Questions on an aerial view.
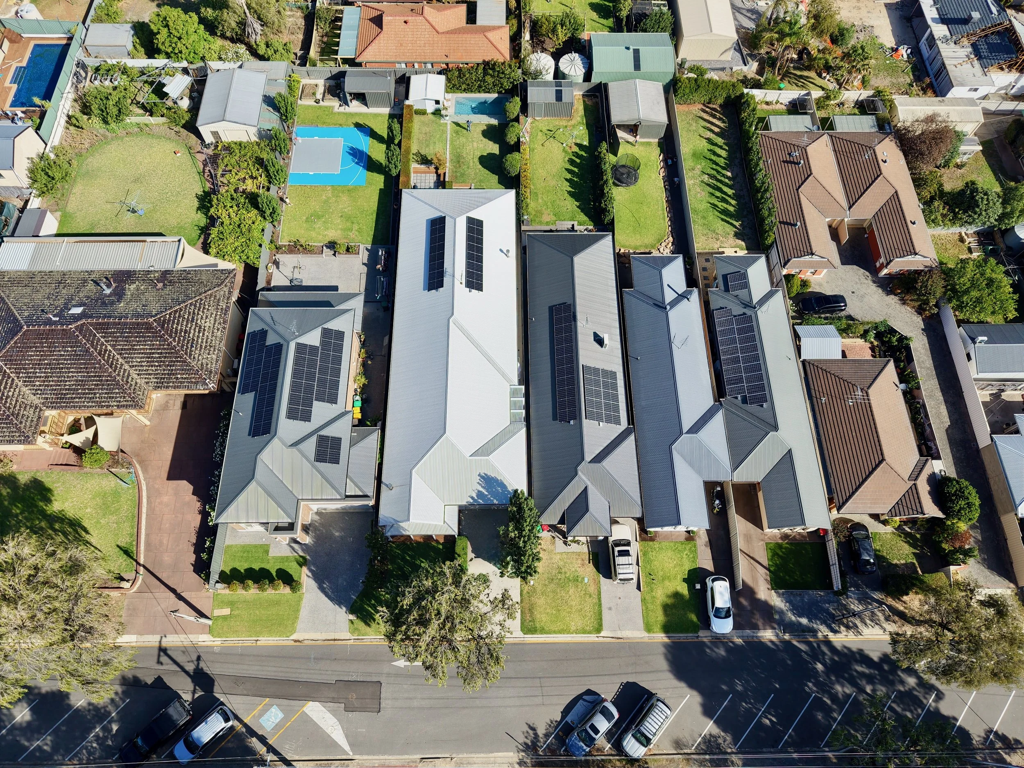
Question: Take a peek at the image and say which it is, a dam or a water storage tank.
water storage tank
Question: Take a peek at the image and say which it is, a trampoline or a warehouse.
trampoline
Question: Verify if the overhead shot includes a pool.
Yes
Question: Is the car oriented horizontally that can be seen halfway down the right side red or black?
black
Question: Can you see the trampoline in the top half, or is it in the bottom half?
top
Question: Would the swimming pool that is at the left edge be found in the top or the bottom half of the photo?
top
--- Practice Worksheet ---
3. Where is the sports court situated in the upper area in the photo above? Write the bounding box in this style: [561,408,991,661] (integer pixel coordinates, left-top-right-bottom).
[288,127,370,185]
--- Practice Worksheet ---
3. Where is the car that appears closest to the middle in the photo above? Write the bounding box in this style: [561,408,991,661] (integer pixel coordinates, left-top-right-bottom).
[609,523,638,584]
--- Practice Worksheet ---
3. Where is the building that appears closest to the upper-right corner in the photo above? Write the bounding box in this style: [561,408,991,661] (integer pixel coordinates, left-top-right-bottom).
[912,0,1024,99]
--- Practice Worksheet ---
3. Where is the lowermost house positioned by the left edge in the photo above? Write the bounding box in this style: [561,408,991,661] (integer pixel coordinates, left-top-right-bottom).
[0,267,241,450]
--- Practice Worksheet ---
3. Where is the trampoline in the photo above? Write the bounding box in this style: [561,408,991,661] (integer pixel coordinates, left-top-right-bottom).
[611,151,645,194]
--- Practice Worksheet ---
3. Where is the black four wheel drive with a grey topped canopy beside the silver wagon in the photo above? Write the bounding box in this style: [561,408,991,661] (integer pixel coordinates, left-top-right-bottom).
[121,701,195,768]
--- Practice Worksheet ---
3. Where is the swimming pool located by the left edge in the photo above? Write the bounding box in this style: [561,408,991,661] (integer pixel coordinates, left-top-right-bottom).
[4,41,72,110]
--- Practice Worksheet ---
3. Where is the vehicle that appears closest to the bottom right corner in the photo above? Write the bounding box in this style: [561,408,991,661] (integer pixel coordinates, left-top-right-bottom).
[842,519,883,578]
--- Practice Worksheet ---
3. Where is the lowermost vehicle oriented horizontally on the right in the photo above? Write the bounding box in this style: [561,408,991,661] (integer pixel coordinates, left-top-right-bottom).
[795,291,848,316]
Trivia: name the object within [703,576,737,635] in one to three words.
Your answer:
car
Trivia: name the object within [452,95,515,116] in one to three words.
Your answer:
swimming pool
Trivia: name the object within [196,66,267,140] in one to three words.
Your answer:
shed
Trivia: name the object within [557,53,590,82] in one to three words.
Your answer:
water tank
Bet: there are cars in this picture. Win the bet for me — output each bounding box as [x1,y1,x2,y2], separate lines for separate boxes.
[168,700,231,765]
[121,701,195,768]
[609,523,638,584]
[795,291,848,316]
[568,695,617,761]
[622,691,673,764]
[842,519,883,578]
[703,576,737,635]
